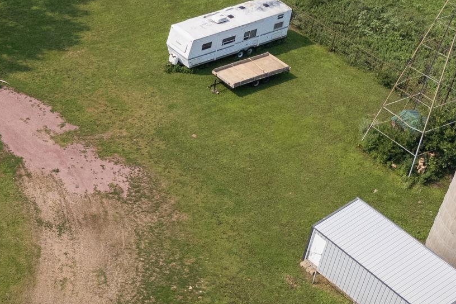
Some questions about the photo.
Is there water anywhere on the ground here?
No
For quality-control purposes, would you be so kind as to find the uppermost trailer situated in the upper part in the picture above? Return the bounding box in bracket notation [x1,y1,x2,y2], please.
[164,0,292,70]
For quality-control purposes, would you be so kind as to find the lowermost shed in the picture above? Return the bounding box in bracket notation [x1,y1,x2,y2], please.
[304,200,456,304]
